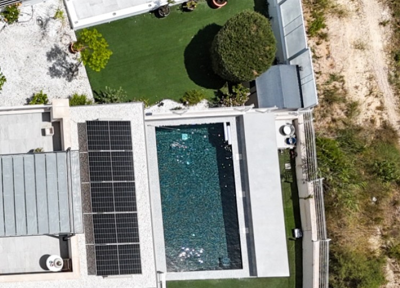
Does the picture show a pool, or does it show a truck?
pool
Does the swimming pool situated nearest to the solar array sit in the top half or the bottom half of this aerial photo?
bottom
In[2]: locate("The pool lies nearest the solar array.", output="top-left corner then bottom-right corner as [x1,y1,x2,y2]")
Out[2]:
[144,120,249,281]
